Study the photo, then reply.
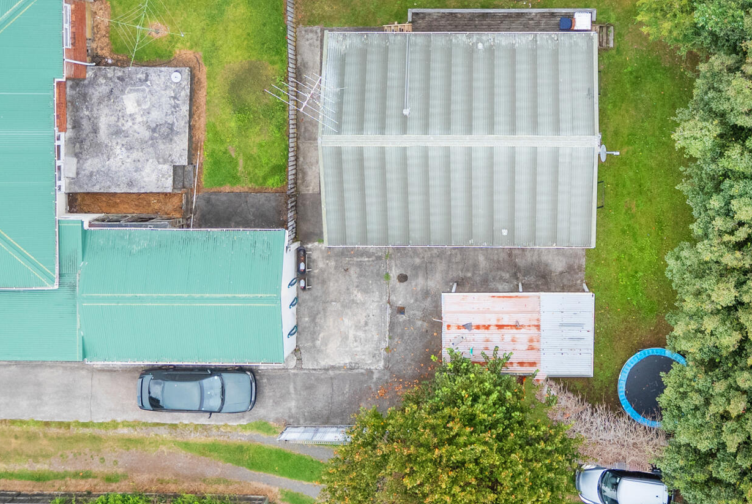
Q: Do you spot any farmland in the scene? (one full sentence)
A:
No, no farmland is visible.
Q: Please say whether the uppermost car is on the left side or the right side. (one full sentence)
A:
The uppermost car sits on the left side.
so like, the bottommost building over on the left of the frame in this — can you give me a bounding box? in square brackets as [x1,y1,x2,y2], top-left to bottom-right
[0,220,299,366]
